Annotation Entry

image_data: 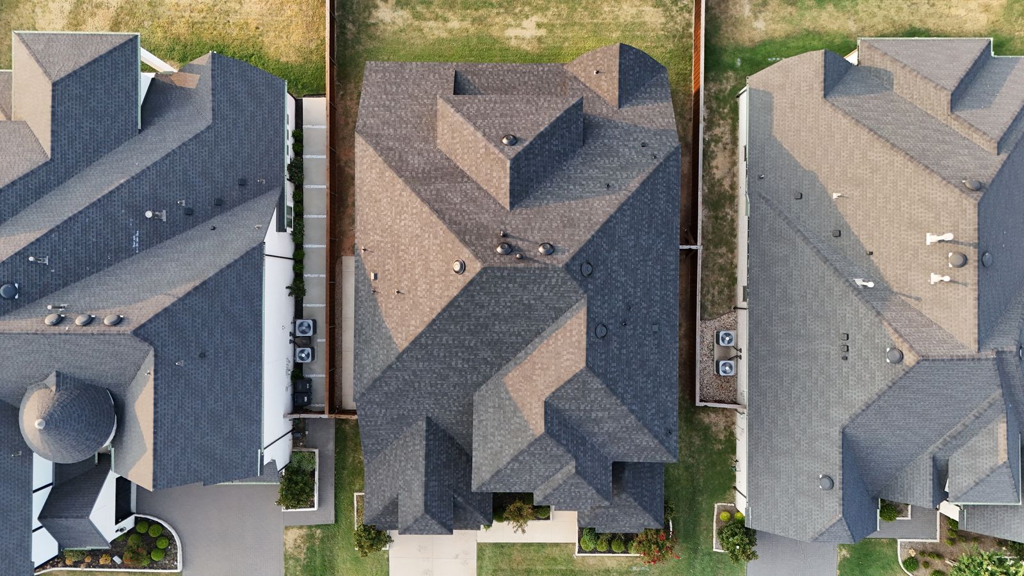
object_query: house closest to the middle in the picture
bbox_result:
[353,41,681,536]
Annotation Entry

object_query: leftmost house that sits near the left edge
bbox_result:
[0,31,301,576]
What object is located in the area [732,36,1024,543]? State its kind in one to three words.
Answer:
house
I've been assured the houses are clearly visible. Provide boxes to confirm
[732,36,1024,543]
[353,41,681,536]
[0,31,301,576]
